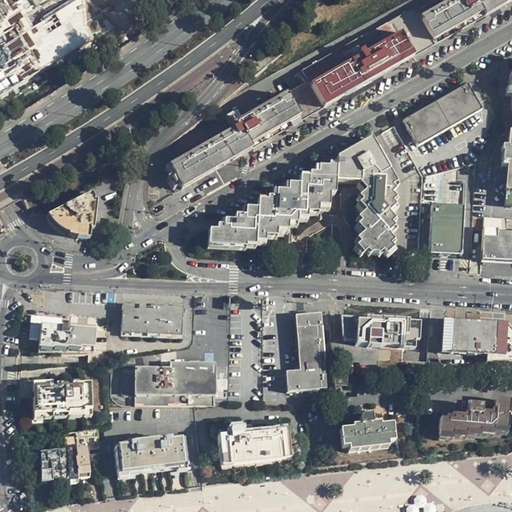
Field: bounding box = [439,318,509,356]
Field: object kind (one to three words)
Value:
building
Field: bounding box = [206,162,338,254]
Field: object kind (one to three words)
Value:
house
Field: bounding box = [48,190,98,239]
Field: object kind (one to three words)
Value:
building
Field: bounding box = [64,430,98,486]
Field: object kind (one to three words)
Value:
house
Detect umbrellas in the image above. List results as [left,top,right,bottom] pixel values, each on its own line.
[406,503,418,512]
[414,494,426,506]
[424,502,436,512]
